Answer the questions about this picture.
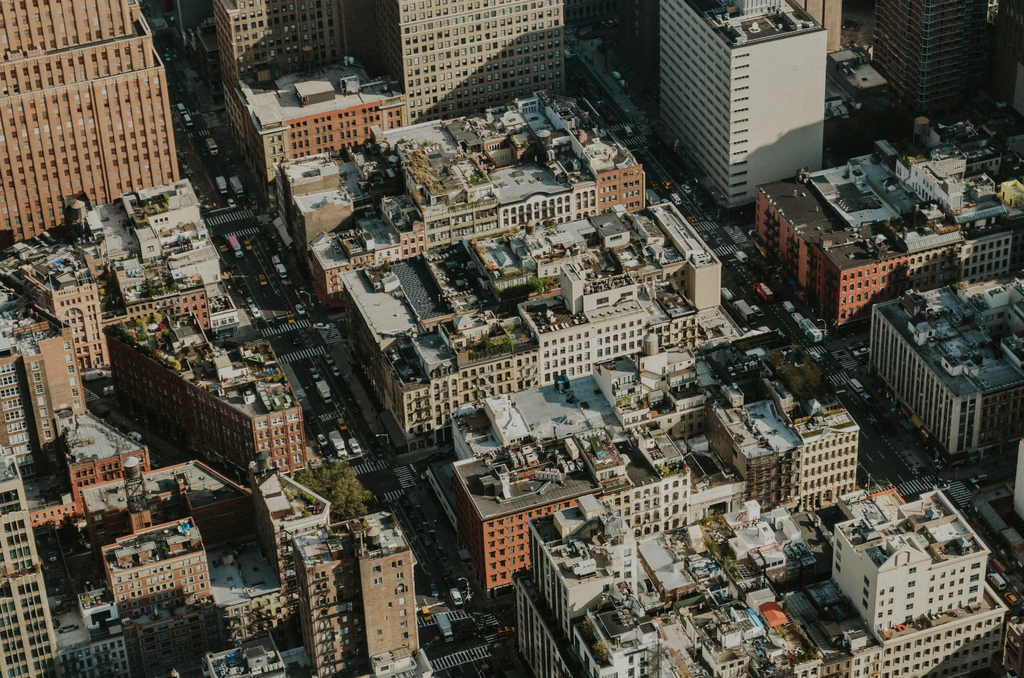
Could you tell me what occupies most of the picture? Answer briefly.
buildings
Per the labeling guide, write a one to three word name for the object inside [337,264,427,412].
building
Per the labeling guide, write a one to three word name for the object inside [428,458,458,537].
building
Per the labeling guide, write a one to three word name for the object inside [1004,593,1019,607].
car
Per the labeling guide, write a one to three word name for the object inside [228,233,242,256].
vehicle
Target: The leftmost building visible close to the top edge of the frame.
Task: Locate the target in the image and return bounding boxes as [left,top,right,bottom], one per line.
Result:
[0,0,176,244]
